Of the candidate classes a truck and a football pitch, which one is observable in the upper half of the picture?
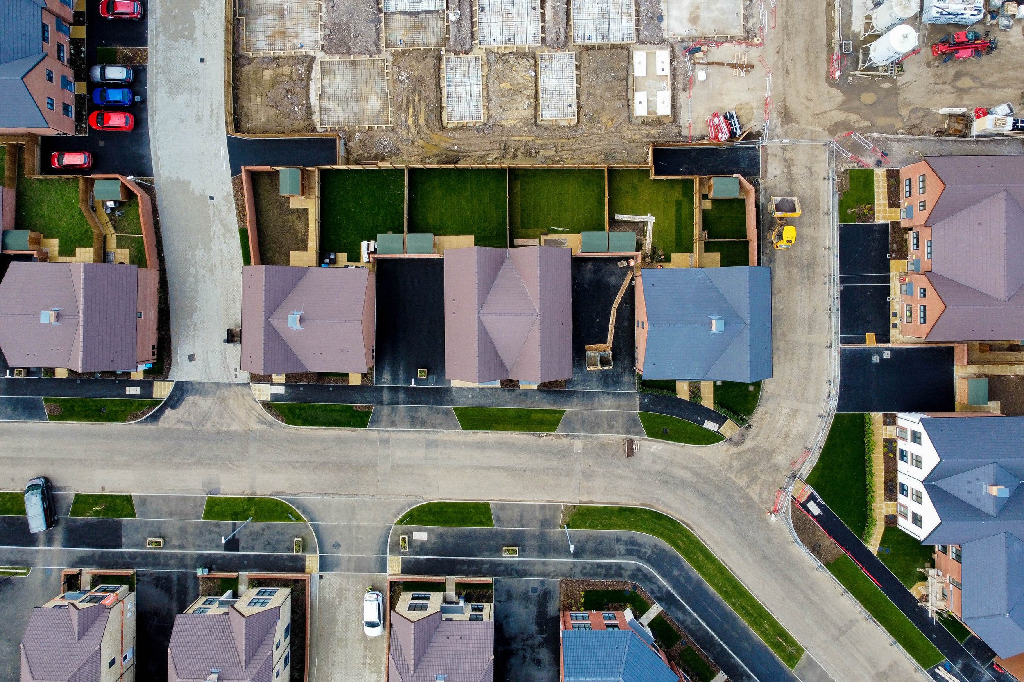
truck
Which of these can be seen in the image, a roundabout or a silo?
silo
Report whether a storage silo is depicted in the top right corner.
Yes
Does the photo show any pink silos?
No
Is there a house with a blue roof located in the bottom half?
Yes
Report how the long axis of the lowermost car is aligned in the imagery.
up and down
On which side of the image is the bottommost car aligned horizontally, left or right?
left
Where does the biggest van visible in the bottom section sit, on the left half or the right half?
left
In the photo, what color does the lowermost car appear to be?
white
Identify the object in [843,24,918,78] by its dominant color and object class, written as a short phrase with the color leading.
white silo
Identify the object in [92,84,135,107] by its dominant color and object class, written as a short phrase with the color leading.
blue car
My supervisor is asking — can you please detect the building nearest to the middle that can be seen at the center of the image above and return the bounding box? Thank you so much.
[444,246,573,383]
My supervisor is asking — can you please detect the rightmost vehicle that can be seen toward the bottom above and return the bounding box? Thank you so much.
[362,590,383,636]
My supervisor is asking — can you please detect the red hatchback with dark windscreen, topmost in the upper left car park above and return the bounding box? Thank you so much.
[99,0,145,20]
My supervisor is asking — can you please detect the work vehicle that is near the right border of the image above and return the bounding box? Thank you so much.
[928,31,997,71]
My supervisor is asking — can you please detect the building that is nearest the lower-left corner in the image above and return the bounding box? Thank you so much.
[20,586,137,682]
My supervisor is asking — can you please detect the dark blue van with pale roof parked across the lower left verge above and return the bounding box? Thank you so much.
[24,477,58,532]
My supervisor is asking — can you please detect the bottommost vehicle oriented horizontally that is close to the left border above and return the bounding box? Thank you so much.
[51,149,95,170]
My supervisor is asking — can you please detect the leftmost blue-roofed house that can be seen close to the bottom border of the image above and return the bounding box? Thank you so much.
[561,610,687,682]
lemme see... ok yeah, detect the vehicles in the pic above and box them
[928,31,997,71]
[90,62,136,85]
[51,149,95,170]
[89,108,136,132]
[767,197,801,251]
[362,590,383,636]
[92,84,135,107]
[99,0,145,20]
[24,477,58,532]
